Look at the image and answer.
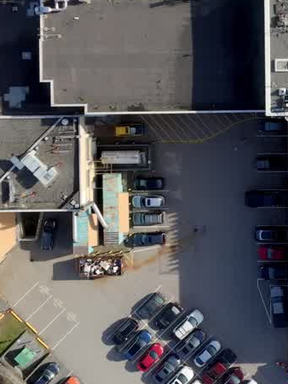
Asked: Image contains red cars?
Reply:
Yes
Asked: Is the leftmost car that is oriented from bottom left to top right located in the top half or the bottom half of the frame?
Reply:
bottom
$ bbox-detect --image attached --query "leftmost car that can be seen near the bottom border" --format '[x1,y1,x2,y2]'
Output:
[30,358,60,384]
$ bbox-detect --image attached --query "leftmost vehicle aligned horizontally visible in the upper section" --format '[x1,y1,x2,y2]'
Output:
[113,124,146,139]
